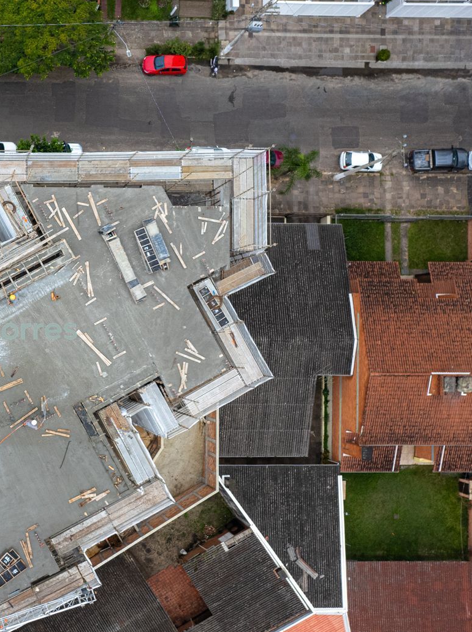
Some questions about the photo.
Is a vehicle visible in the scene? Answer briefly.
Yes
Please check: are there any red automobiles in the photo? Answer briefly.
Yes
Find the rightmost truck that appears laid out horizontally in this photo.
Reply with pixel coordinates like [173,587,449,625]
[404,146,467,172]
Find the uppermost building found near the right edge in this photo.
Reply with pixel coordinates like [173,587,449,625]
[333,261,472,473]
